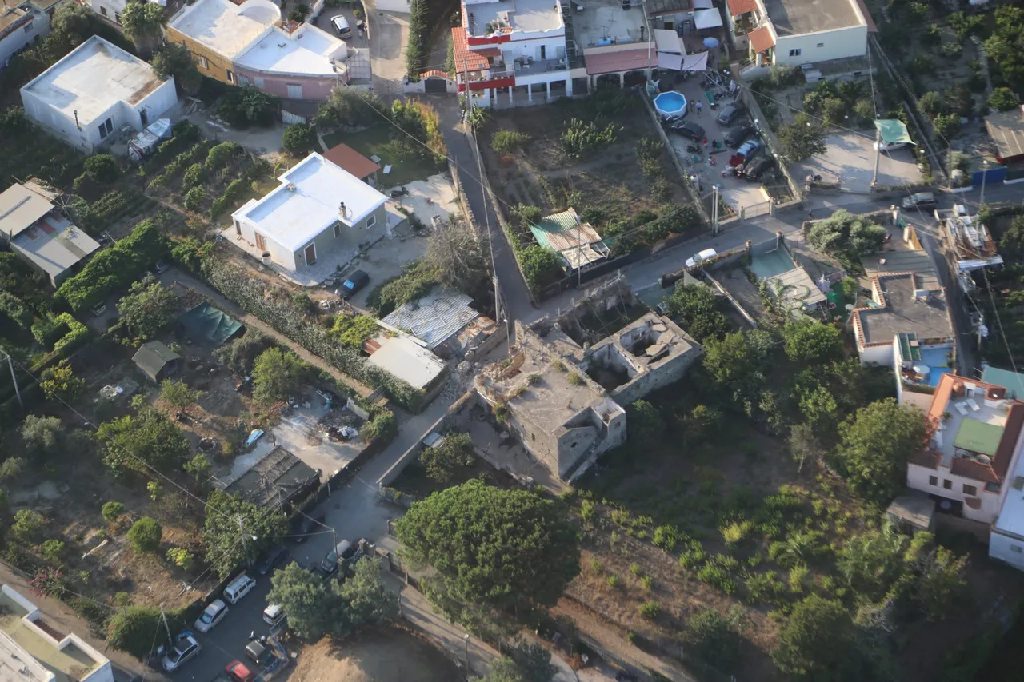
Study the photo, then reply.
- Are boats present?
Yes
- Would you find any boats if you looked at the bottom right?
No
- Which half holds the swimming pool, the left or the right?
right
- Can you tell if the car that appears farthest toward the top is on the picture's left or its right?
left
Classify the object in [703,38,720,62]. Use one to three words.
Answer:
umbrella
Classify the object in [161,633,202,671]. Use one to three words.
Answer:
car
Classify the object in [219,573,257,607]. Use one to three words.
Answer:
van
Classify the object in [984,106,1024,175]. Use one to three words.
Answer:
shed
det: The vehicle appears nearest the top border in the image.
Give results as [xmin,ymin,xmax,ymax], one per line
[330,14,350,37]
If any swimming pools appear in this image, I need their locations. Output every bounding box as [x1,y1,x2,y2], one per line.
[653,92,689,124]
